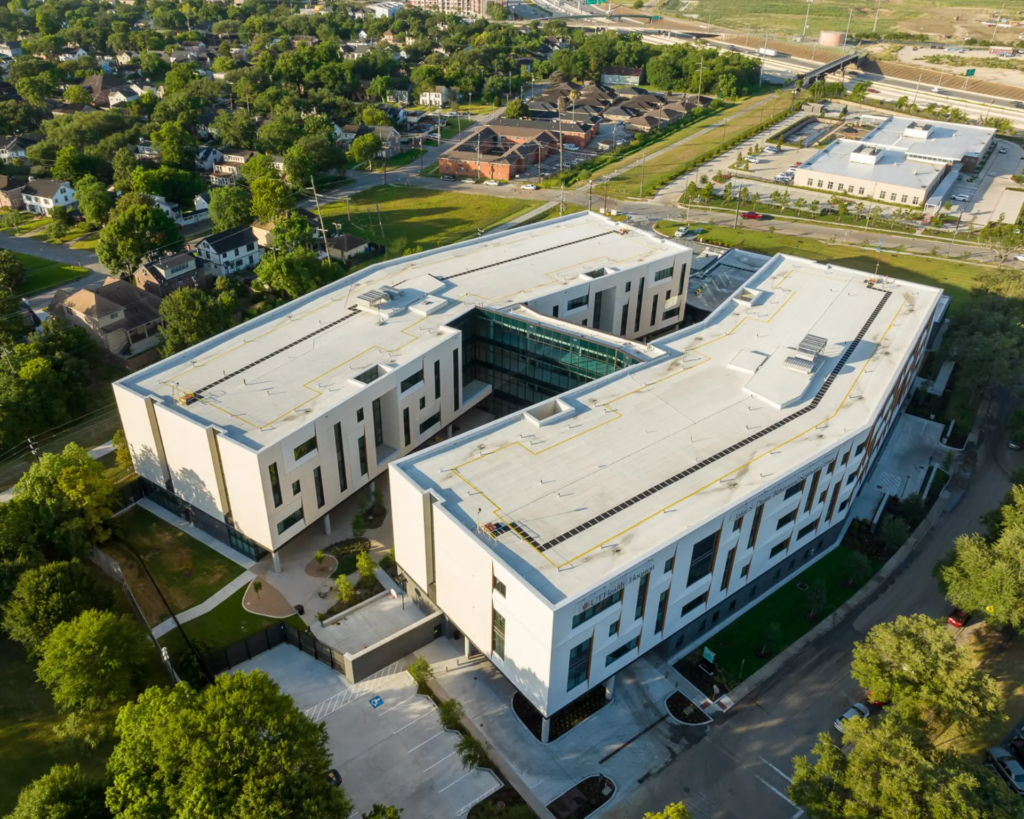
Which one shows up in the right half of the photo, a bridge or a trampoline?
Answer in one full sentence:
It is a bridge that can be seen in the right half of the photo.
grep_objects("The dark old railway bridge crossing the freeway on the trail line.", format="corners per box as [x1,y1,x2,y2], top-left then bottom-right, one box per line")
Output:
[790,51,867,91]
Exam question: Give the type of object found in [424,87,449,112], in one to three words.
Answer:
house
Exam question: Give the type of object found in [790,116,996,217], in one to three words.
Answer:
building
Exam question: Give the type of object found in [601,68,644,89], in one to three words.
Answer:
house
